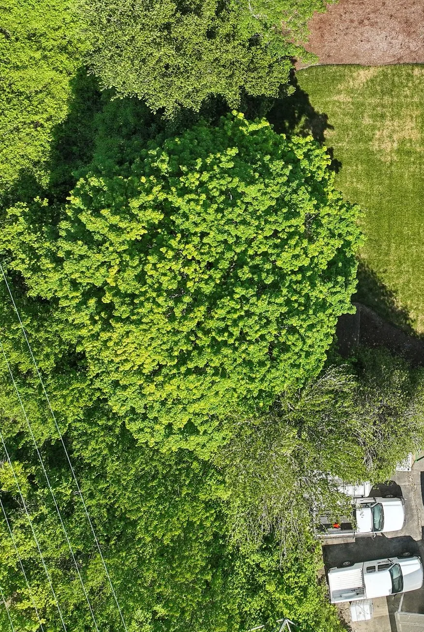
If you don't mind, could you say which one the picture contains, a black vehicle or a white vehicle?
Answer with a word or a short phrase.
white vehicle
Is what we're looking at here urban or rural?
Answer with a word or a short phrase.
rural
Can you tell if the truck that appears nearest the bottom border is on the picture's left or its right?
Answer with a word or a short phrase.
right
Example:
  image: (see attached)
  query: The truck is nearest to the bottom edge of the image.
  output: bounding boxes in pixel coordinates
[327,554,422,601]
